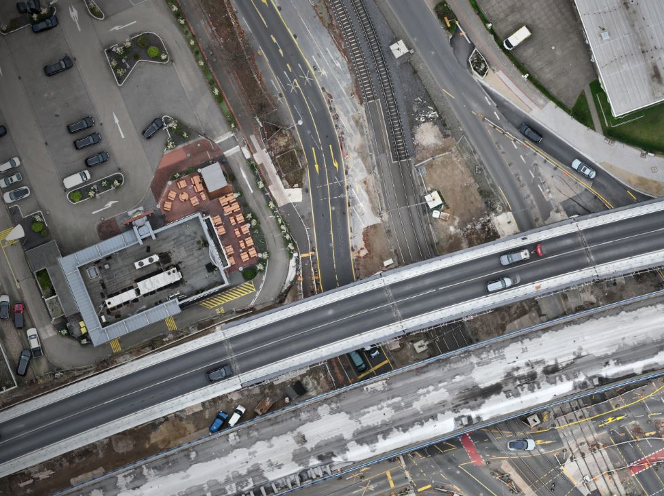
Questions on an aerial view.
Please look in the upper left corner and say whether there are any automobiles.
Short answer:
Yes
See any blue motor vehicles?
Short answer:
Yes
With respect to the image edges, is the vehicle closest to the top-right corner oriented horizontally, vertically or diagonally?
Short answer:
diagonally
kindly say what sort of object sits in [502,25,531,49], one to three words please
vehicle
